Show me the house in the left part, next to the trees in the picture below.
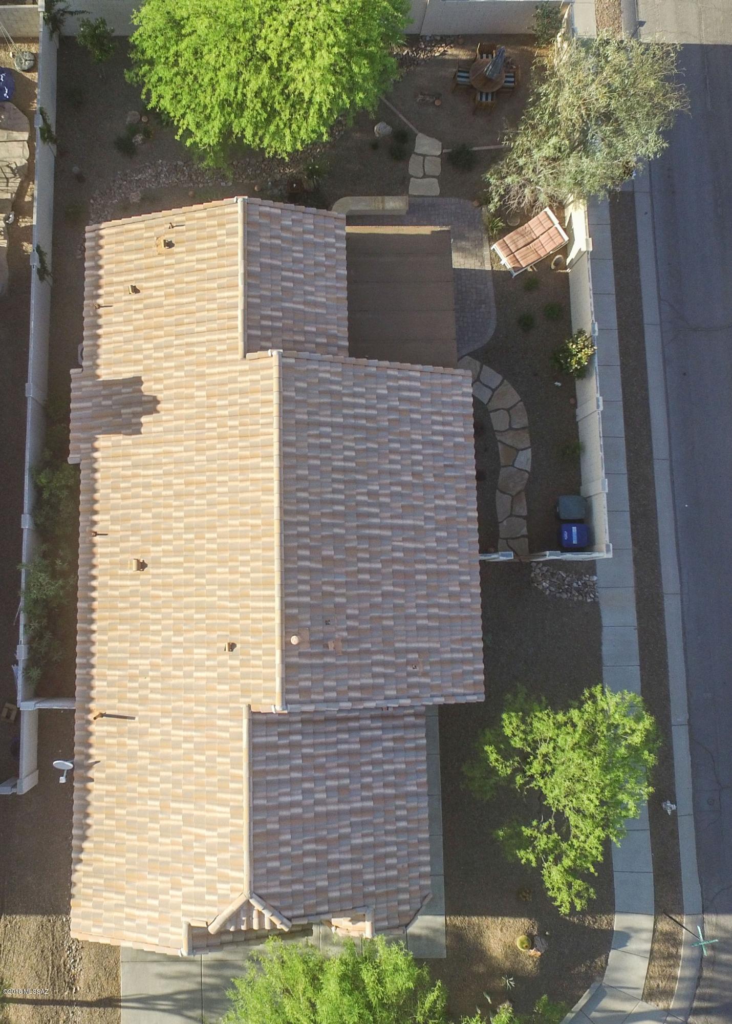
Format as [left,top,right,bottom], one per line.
[66,192,490,965]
